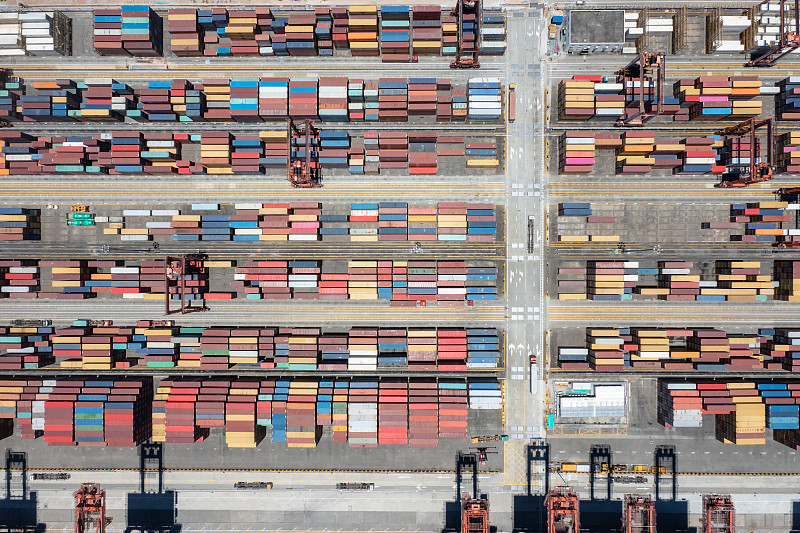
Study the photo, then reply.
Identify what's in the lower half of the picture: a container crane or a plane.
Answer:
container crane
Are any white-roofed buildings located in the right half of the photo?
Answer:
Yes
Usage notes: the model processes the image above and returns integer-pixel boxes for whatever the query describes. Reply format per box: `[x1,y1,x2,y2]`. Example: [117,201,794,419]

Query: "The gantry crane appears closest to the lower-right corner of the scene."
[701,495,738,533]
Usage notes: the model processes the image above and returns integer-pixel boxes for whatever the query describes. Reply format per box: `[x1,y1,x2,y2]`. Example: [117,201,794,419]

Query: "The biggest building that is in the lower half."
[555,380,624,417]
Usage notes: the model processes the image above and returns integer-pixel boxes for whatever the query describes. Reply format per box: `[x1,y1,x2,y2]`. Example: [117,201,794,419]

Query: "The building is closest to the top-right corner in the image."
[565,10,624,52]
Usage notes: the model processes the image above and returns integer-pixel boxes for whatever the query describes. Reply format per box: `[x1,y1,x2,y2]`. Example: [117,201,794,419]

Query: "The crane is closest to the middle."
[288,116,323,187]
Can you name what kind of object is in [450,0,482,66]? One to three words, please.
container crane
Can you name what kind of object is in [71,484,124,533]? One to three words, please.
container crane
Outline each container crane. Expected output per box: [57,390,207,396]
[716,115,774,187]
[745,0,800,65]
[616,48,661,126]
[701,495,738,533]
[71,484,124,533]
[457,488,501,533]
[545,486,587,533]
[450,0,482,66]
[165,252,210,318]
[288,116,323,187]
[622,494,659,533]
